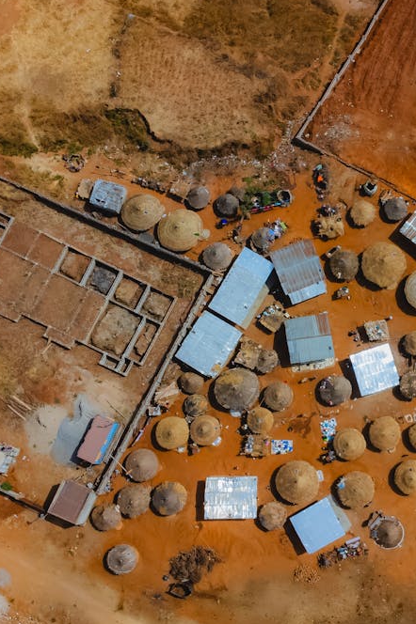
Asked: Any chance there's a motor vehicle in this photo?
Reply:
No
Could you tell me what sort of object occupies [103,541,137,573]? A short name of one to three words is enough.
shed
